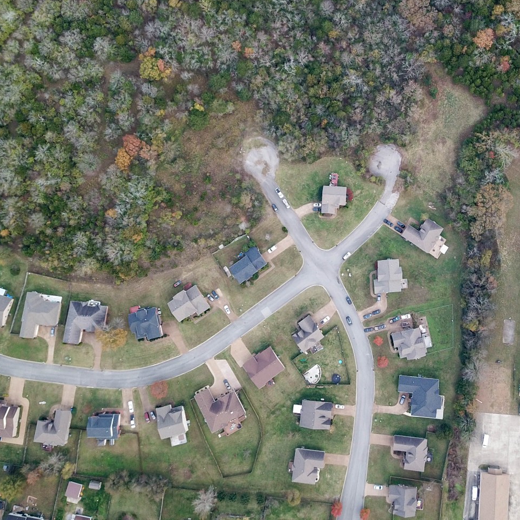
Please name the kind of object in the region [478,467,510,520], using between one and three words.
building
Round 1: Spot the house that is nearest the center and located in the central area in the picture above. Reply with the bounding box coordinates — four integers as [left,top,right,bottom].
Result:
[229,247,266,284]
